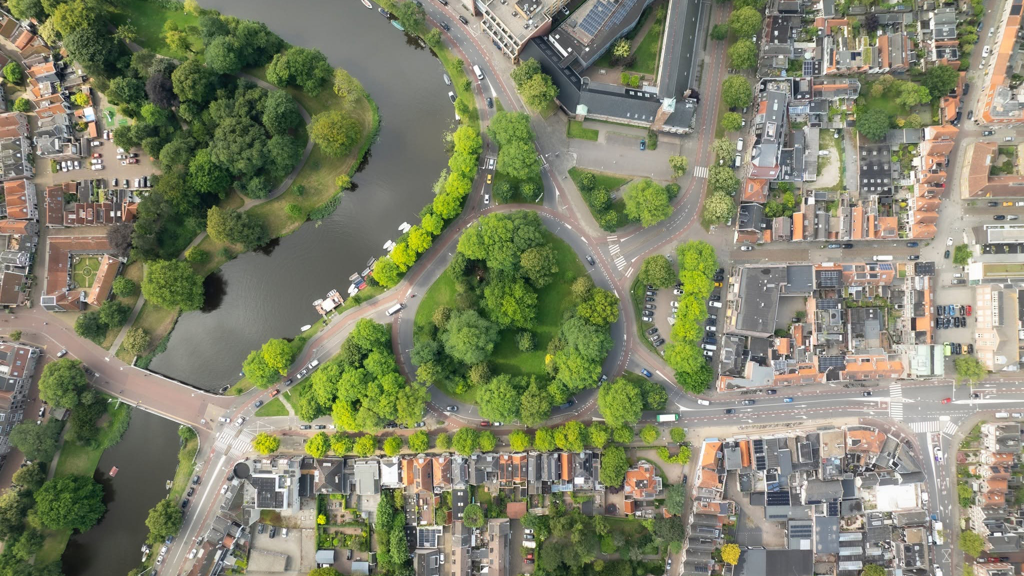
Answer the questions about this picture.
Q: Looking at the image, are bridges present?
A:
Yes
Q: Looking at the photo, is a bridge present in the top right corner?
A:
No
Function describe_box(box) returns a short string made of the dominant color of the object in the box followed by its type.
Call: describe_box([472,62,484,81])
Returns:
white vehicle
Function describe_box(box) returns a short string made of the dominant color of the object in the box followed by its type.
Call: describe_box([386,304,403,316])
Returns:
white vehicle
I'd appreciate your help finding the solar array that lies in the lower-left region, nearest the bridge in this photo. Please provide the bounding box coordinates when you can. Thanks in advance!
[250,477,285,508]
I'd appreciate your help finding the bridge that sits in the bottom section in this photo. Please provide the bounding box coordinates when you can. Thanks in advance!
[94,365,230,435]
